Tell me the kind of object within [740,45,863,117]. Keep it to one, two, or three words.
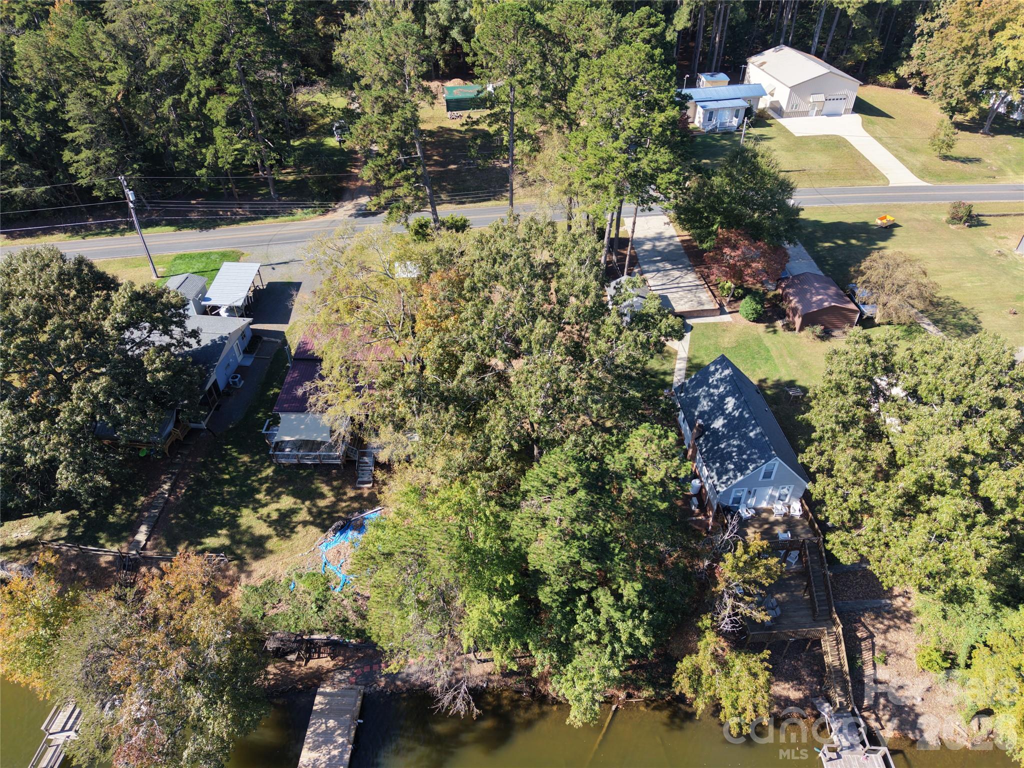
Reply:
building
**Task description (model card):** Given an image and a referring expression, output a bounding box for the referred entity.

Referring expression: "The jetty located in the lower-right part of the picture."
[802,682,909,768]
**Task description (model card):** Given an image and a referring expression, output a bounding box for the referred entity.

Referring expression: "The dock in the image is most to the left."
[26,669,112,768]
